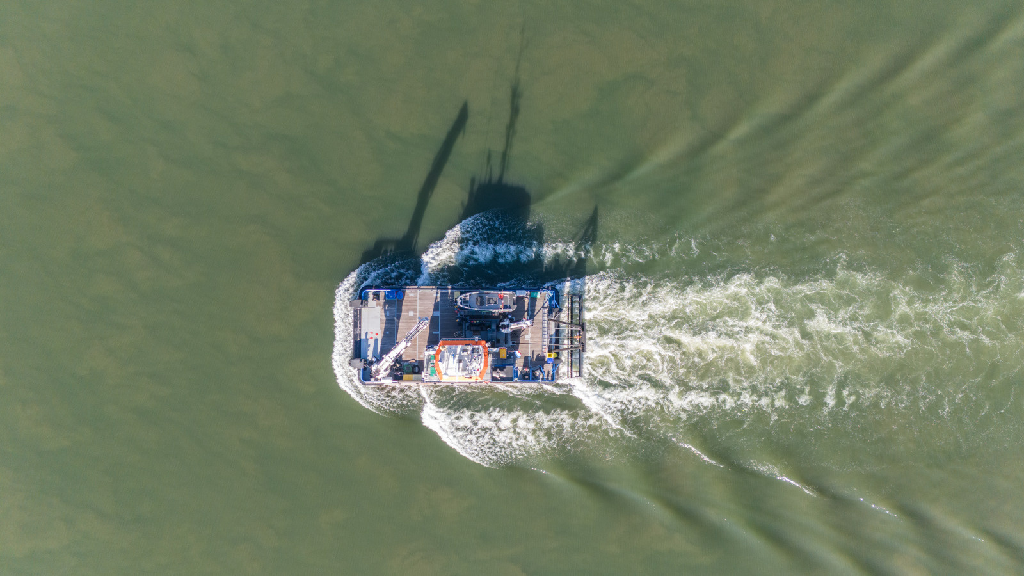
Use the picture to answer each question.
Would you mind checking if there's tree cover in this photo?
No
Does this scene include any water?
Yes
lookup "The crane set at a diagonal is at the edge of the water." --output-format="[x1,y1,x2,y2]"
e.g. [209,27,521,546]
[367,317,432,380]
